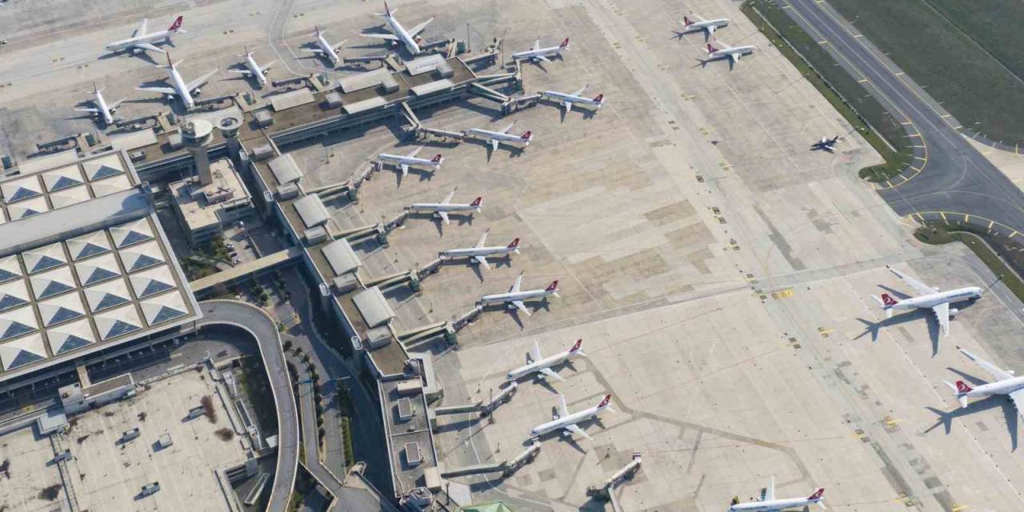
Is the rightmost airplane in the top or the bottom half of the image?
bottom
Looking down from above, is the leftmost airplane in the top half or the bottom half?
top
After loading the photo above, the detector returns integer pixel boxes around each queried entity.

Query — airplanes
[135,56,216,112]
[441,231,514,270]
[682,12,730,34]
[513,37,570,62]
[363,6,434,56]
[106,14,189,53]
[545,84,604,110]
[379,143,442,174]
[947,343,1024,417]
[78,84,127,124]
[707,39,756,63]
[469,122,530,150]
[878,263,984,333]
[730,471,823,512]
[531,390,614,442]
[233,50,278,86]
[411,186,480,222]
[813,131,840,146]
[508,336,584,382]
[482,271,559,314]
[305,30,348,65]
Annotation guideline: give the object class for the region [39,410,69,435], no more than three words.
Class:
building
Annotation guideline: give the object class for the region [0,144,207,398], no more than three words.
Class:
building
